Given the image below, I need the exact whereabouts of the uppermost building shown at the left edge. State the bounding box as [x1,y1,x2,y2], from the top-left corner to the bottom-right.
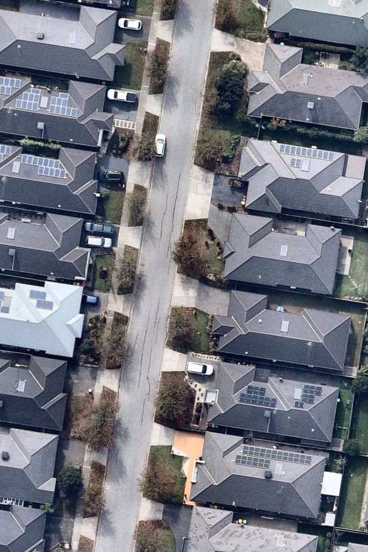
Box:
[0,5,127,81]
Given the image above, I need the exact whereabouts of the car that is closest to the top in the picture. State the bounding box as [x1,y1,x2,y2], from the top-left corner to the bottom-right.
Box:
[117,18,143,31]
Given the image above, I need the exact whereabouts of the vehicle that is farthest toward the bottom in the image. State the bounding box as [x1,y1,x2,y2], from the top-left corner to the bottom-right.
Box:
[187,362,213,376]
